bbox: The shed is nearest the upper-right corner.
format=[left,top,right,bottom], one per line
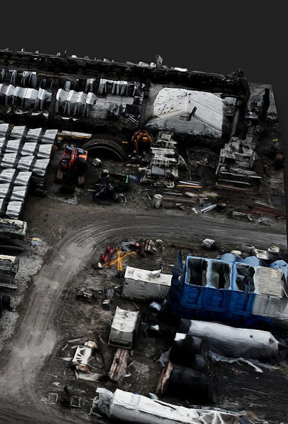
[249,89,286,124]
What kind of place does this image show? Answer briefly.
industrial area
